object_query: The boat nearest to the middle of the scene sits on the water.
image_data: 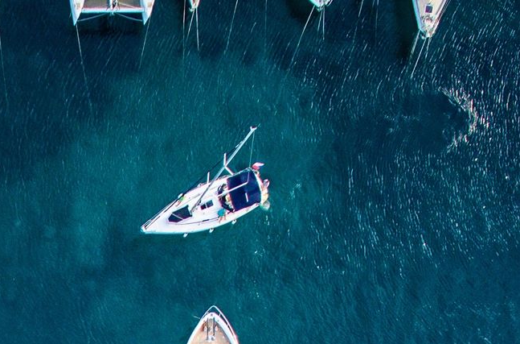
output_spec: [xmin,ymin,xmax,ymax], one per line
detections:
[138,120,269,240]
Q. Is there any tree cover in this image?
No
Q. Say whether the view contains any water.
Yes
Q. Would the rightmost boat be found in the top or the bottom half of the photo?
top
